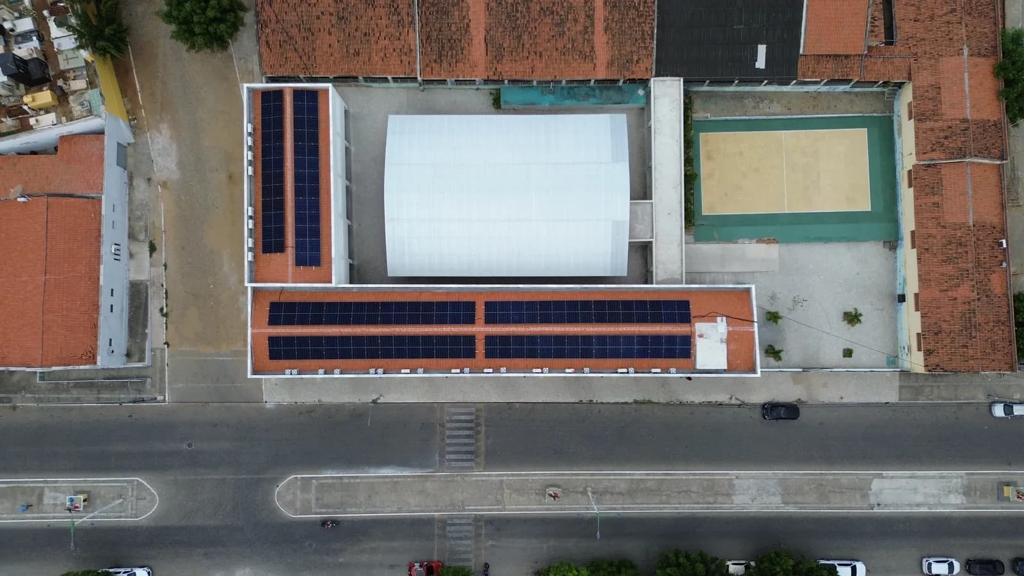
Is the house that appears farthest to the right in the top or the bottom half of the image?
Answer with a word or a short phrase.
top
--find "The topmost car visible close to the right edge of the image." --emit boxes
[992,401,1024,422]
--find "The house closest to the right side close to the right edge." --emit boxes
[899,0,1024,372]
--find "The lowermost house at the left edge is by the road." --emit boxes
[0,113,133,368]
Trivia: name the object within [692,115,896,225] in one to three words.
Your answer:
sports court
